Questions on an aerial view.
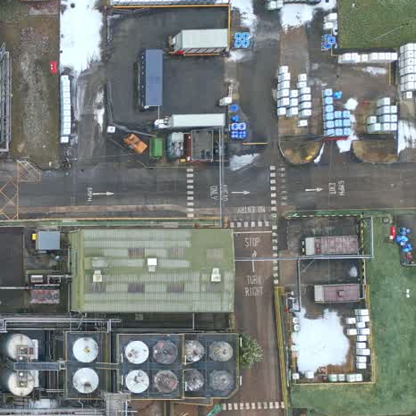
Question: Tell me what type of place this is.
industrial area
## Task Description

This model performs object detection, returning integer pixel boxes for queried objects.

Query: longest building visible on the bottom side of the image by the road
[63,228,236,313]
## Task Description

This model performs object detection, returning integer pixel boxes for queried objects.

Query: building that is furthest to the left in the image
[34,231,60,249]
